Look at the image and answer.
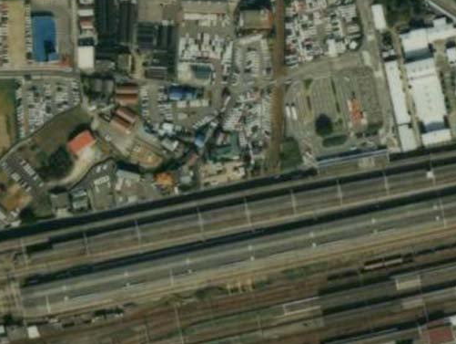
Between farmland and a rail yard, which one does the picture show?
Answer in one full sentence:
This image shows a rail yard.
